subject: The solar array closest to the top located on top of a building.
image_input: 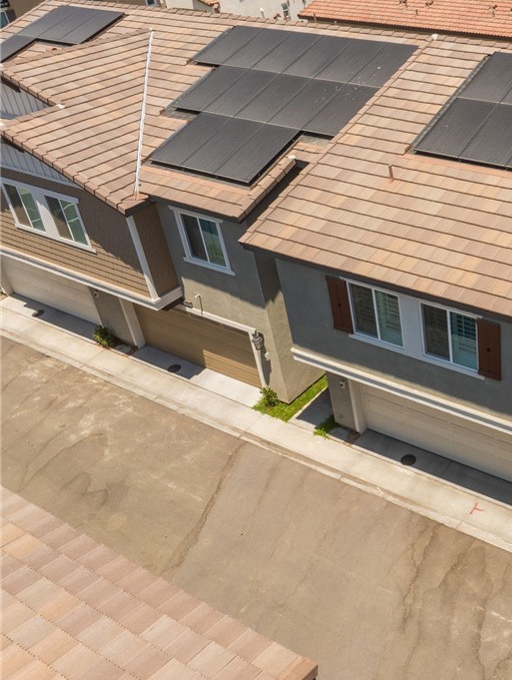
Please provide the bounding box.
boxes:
[0,4,121,63]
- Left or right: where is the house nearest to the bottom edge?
left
